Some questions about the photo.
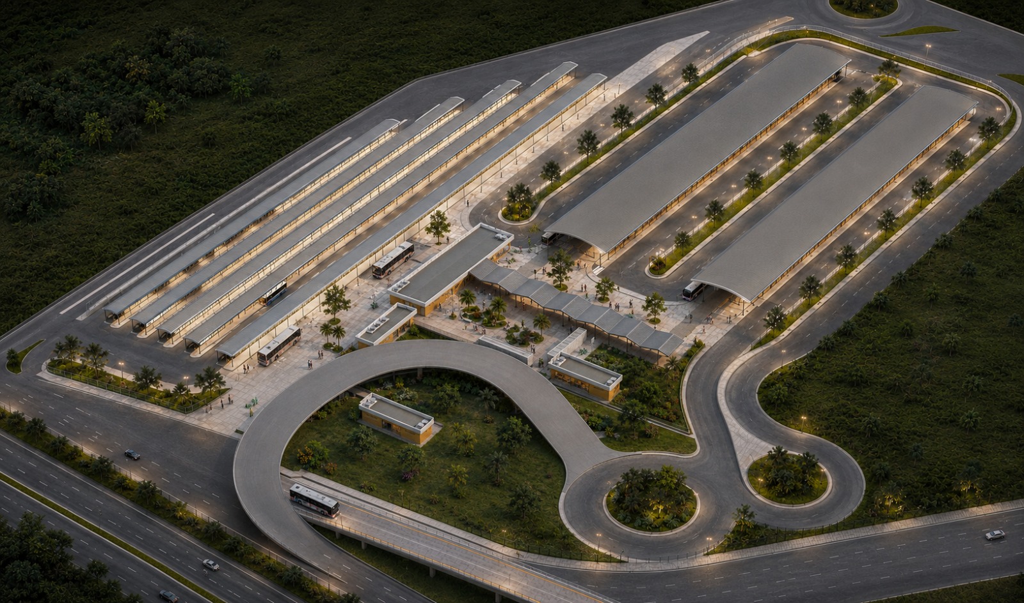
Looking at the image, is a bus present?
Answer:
Yes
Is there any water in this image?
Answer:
No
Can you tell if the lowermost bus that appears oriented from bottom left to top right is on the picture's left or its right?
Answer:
left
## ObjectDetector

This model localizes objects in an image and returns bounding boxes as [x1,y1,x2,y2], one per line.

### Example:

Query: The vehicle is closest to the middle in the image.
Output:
[540,231,562,245]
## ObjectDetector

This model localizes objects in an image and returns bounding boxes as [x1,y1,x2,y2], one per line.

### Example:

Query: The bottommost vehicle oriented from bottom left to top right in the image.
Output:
[256,326,300,364]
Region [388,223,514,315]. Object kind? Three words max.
building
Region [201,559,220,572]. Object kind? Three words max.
vehicle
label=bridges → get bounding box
[281,470,625,603]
